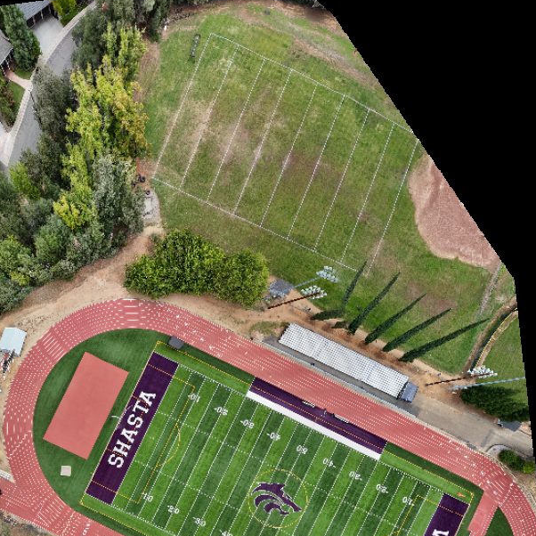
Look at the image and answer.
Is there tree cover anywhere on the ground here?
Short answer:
Yes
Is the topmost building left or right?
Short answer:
left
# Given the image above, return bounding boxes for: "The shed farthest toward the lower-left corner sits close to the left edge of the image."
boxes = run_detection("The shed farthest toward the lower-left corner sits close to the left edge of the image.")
[0,328,27,357]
